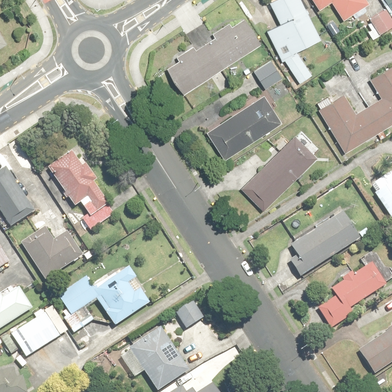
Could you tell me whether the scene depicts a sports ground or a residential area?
residential area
